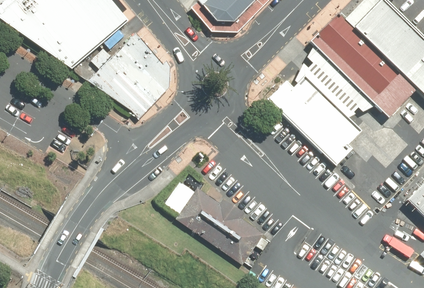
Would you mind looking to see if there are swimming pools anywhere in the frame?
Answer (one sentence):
No, I can't see a single swimming pool in this photo.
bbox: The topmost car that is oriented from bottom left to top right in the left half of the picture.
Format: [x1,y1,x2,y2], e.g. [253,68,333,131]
[153,144,168,158]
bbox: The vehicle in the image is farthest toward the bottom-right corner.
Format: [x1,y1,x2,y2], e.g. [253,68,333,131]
[409,261,424,274]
